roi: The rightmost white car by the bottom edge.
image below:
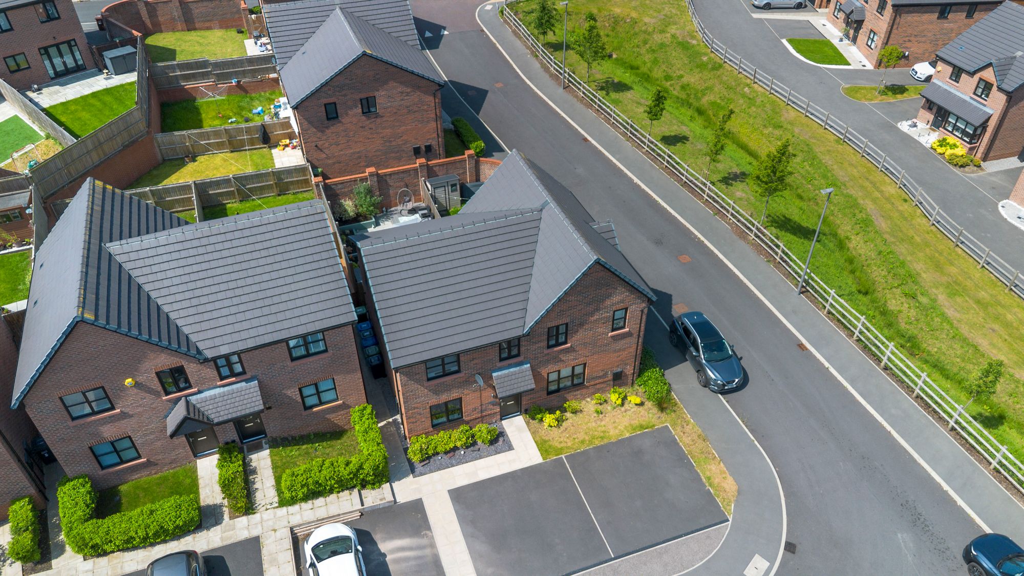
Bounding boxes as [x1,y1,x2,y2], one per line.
[299,517,370,576]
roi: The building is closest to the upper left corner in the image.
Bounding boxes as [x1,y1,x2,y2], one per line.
[0,0,96,96]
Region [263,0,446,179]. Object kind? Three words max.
house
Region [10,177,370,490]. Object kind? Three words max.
house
